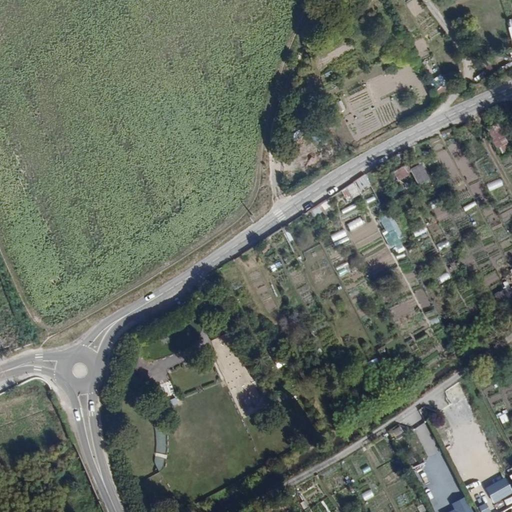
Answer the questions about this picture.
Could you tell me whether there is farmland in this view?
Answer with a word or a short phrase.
Yes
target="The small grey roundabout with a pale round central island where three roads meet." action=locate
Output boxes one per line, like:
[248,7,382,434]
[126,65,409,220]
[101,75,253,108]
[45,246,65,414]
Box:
[58,348,102,391]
